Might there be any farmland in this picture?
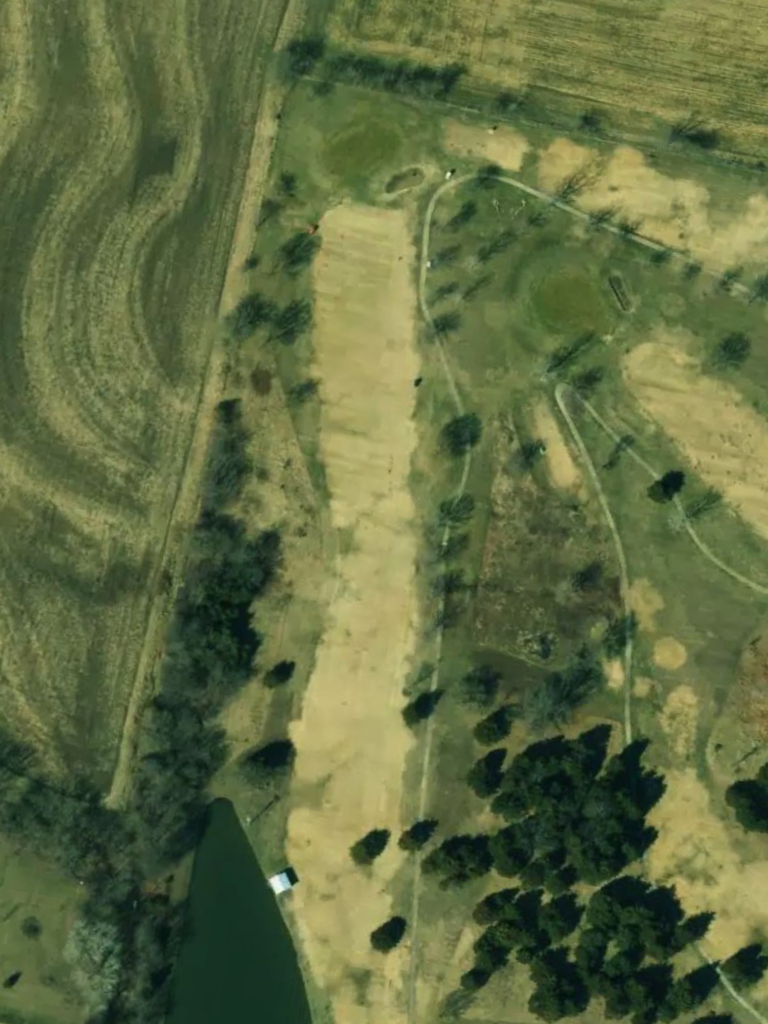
Yes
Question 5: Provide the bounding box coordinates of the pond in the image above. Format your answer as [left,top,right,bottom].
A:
[169,796,312,1024]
